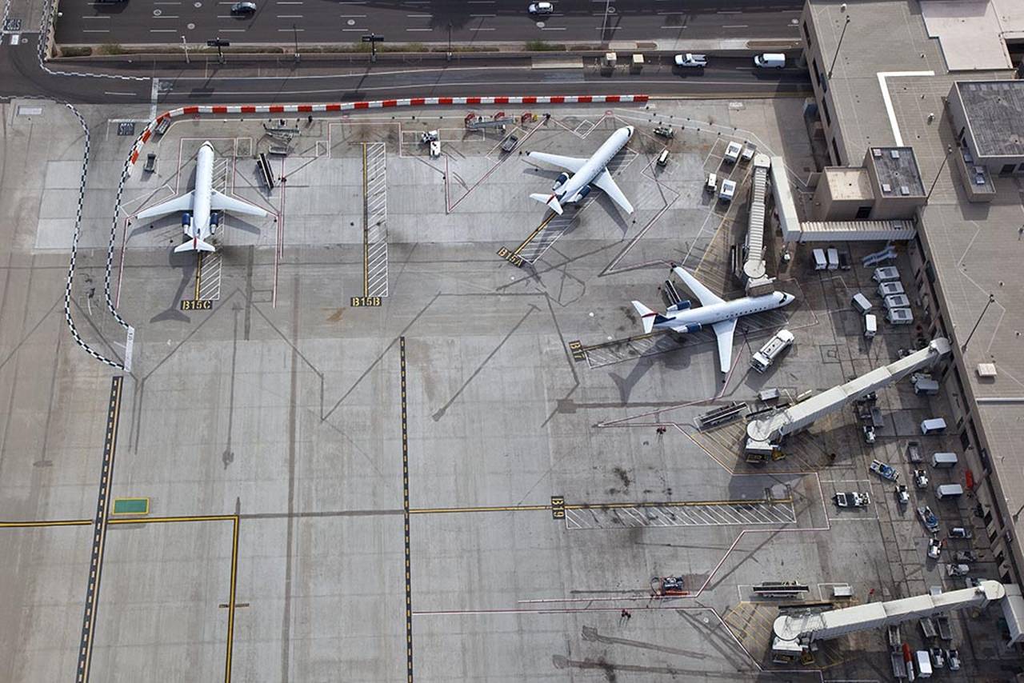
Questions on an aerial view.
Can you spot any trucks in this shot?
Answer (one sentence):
Yes, you can see a truck in this photo.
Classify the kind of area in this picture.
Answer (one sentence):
What you see here is an airport.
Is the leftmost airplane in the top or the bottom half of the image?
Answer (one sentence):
The leftmost airplane sits in the top half of the picture.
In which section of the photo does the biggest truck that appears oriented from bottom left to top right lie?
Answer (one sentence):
The biggest truck that appears oriented from bottom left to top right sits in the right section of the image.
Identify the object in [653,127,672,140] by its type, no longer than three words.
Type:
vehicle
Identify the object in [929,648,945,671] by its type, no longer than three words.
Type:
work vehicle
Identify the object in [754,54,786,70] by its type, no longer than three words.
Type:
vehicle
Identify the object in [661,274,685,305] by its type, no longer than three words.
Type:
work vehicle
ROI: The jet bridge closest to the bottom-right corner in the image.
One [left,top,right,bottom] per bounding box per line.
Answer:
[768,578,1007,665]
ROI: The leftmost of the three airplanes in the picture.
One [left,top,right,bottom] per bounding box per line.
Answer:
[133,142,268,254]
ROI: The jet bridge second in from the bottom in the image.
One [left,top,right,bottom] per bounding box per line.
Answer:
[742,342,949,464]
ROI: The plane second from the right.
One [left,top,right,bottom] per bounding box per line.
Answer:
[528,127,640,217]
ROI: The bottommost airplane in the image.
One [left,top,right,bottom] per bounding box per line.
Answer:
[632,265,794,374]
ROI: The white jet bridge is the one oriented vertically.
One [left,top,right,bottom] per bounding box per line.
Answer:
[729,156,773,300]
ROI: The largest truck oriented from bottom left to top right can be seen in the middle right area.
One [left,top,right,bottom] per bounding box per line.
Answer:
[748,334,793,375]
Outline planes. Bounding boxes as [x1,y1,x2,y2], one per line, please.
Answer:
[632,265,794,374]
[528,127,640,217]
[133,142,268,254]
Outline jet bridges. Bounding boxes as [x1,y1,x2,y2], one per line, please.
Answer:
[768,578,1007,665]
[742,342,949,464]
[729,156,773,300]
